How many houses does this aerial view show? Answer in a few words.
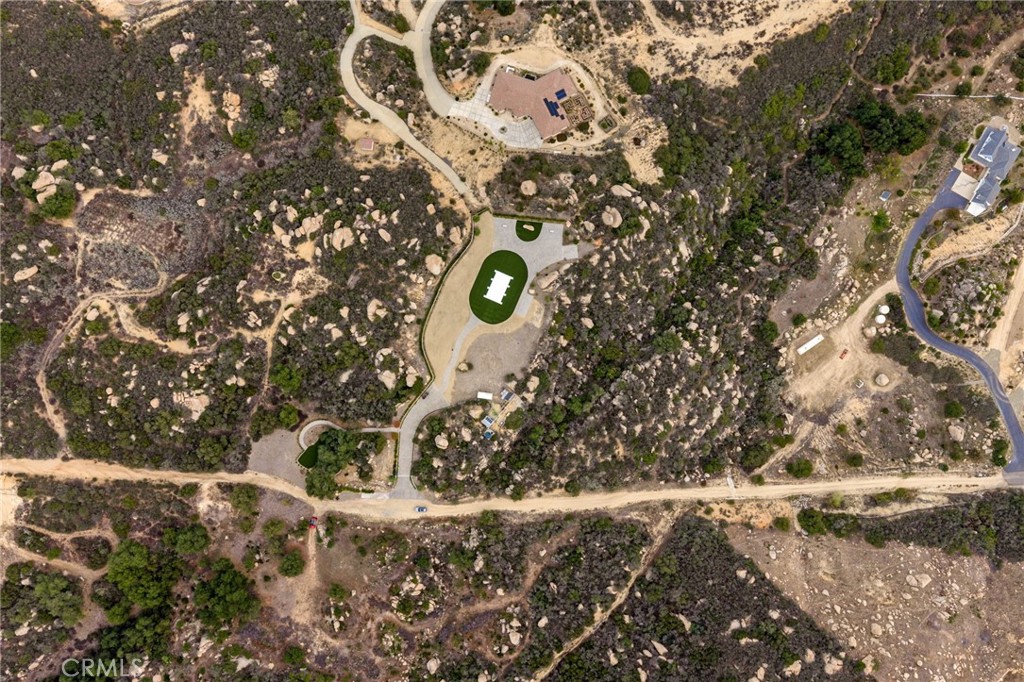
2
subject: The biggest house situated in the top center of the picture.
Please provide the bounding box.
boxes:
[487,67,578,141]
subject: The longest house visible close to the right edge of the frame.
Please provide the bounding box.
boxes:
[965,124,1021,217]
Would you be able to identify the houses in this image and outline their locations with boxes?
[965,124,1021,217]
[487,67,578,141]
